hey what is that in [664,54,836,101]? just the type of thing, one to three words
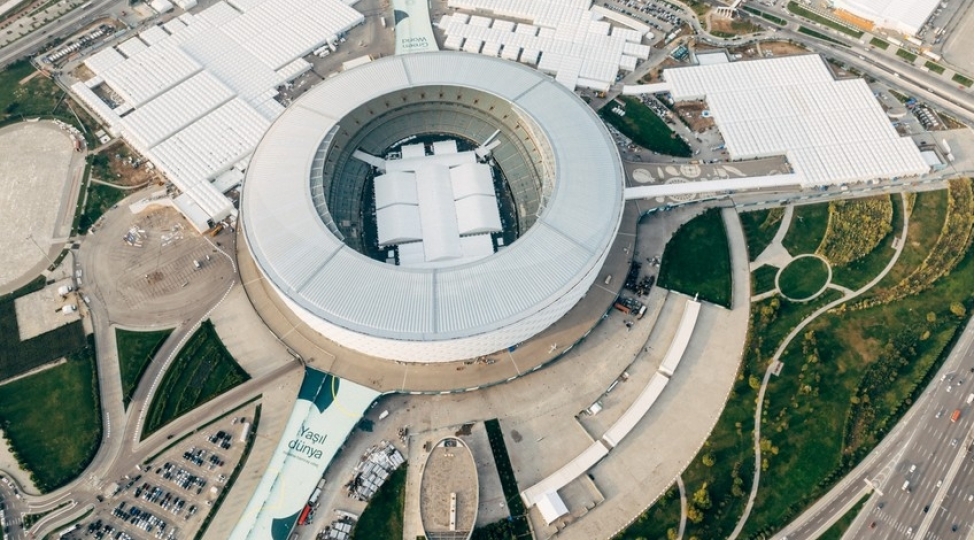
building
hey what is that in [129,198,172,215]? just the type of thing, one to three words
shed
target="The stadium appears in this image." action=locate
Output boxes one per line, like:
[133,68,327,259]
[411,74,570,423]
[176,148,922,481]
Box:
[246,55,621,361]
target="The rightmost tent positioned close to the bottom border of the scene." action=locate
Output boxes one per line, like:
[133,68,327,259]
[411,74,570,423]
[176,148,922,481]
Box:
[536,490,569,528]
